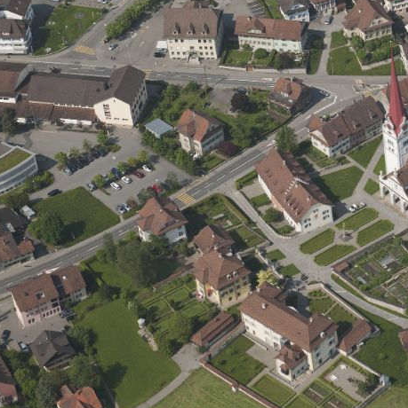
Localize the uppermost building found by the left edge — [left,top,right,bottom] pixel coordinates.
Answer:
[0,0,42,32]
